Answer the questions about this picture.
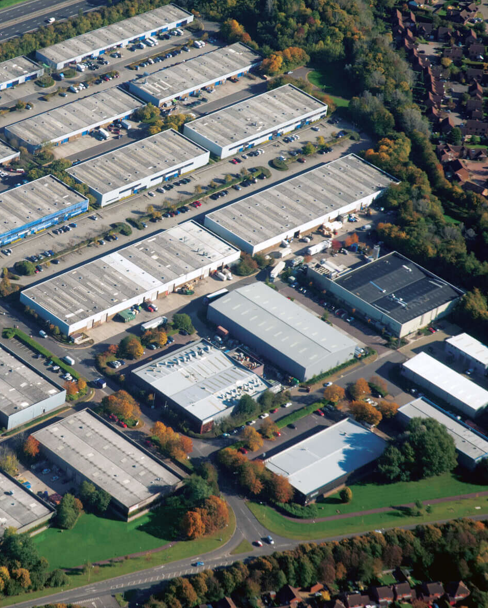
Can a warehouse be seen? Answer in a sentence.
Yes, the frame does contain a warehouse.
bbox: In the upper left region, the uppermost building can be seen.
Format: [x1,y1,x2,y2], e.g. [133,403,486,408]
[36,3,193,69]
